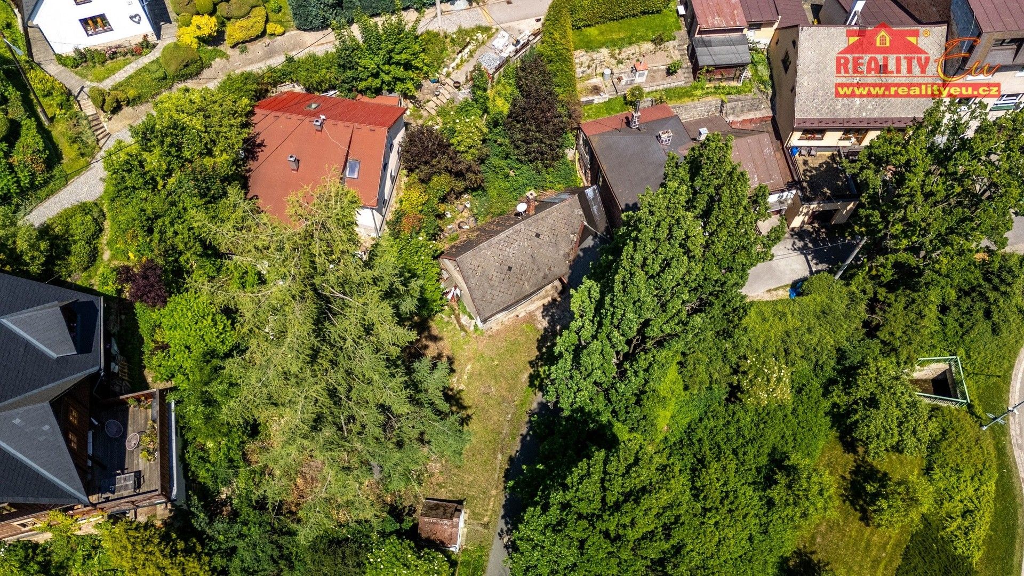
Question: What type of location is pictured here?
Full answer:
What you see here is a residential area.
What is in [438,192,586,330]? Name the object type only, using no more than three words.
house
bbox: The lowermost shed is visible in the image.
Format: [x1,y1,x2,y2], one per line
[418,501,466,557]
